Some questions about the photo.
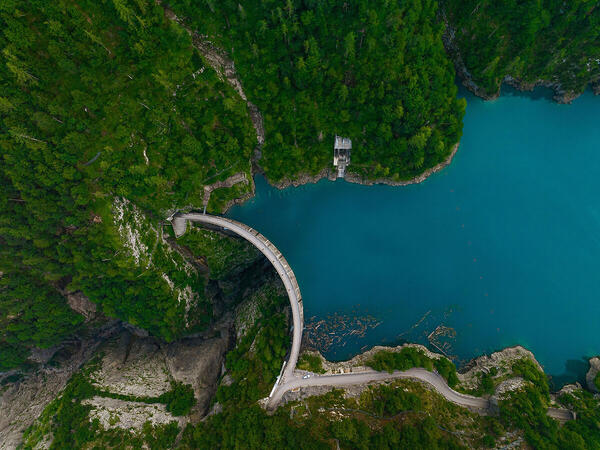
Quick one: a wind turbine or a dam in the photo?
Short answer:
dam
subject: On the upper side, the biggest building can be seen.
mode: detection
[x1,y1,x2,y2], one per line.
[334,137,352,178]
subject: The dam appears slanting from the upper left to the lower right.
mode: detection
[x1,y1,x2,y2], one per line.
[172,212,306,380]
